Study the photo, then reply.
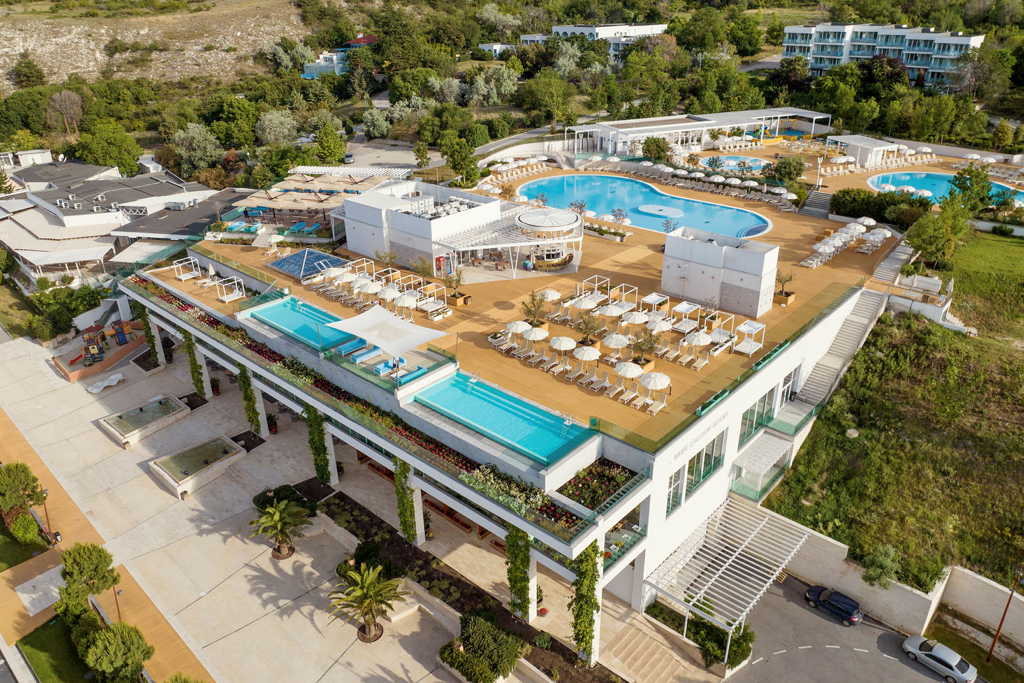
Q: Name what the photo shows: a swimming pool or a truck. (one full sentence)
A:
This aerial view contains a swimming pool.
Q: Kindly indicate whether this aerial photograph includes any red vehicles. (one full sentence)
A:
No, the scene contains no red vehicle.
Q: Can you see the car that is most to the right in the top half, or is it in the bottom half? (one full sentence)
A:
The bottom half of the photo is where the car that is most to the right is.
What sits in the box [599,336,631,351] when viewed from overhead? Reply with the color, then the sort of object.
white umbrella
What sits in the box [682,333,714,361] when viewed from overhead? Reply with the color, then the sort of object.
white umbrella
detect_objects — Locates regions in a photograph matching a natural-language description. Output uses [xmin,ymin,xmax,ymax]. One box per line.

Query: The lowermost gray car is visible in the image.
[902,636,976,683]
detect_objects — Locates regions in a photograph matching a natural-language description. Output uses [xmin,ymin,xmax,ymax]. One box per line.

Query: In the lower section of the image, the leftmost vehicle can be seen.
[805,586,867,628]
